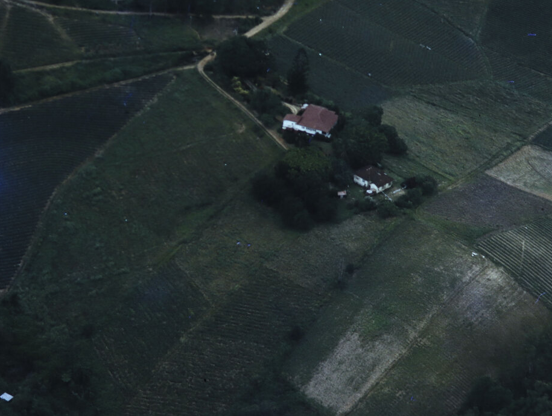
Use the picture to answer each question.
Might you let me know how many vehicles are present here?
0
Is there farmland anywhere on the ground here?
Yes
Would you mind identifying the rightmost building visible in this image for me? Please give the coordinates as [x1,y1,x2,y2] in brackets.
[354,167,395,196]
